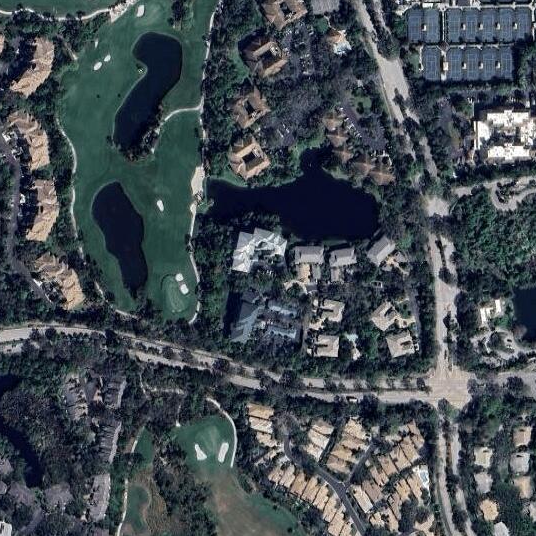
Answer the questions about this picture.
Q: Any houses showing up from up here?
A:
Yes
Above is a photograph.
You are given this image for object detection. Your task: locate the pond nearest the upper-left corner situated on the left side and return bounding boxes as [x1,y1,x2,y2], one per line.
[113,32,182,148]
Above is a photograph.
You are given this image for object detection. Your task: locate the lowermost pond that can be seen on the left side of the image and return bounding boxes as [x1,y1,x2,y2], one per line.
[92,183,148,299]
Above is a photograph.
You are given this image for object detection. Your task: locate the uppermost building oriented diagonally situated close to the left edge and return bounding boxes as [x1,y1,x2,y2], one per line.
[11,37,58,98]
